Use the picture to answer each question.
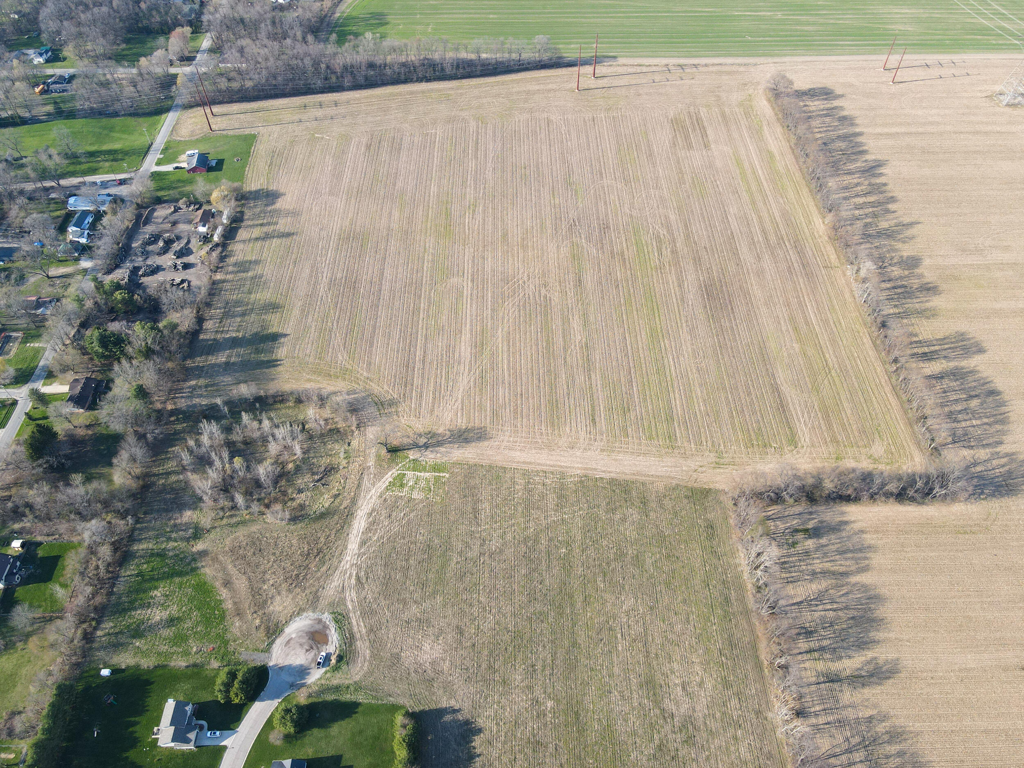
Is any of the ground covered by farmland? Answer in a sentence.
Yes, farmland shows up in the scene.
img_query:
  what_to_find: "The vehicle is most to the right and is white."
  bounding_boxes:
[314,651,326,669]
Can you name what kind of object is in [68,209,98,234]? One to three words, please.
house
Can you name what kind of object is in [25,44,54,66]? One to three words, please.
house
